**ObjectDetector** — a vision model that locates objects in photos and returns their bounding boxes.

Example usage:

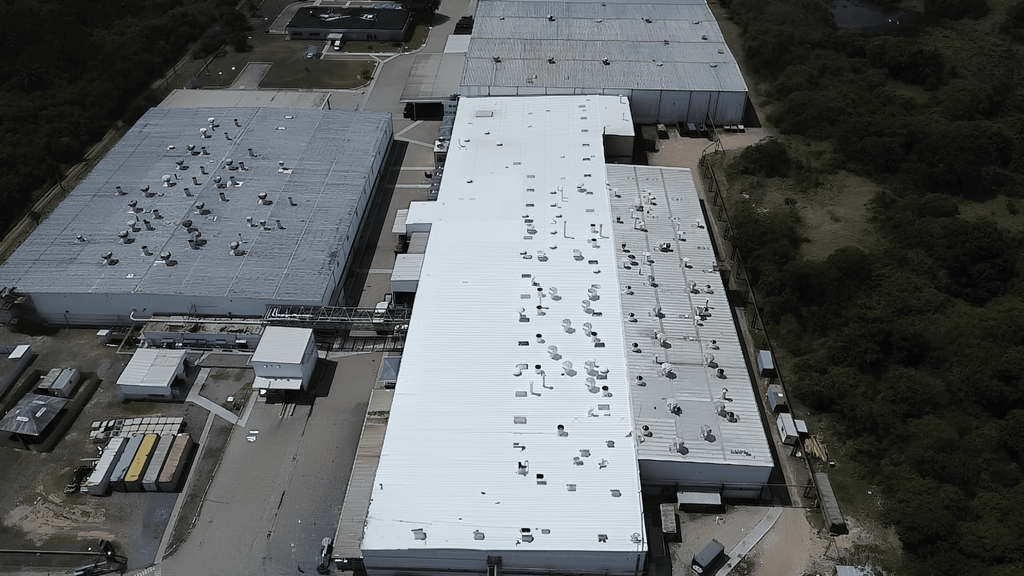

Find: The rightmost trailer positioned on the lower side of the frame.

[814,473,845,534]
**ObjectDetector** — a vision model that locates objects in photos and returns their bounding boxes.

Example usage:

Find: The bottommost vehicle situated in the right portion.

[692,537,726,576]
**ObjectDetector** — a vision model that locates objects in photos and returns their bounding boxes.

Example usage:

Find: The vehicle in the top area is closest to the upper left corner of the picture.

[306,43,319,57]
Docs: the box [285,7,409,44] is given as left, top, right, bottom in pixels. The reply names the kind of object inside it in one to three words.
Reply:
building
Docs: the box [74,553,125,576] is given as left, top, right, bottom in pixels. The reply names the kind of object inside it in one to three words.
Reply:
vehicle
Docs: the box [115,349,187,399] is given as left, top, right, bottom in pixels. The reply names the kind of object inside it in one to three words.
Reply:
shed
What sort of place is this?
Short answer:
industrial area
